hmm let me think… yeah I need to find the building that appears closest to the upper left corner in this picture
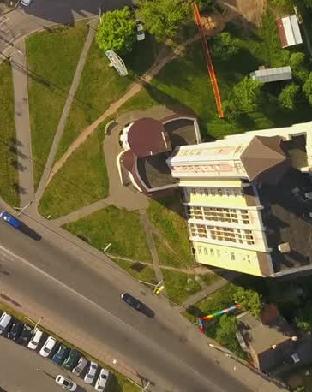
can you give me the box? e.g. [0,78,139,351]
[109,117,200,191]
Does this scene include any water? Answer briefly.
No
